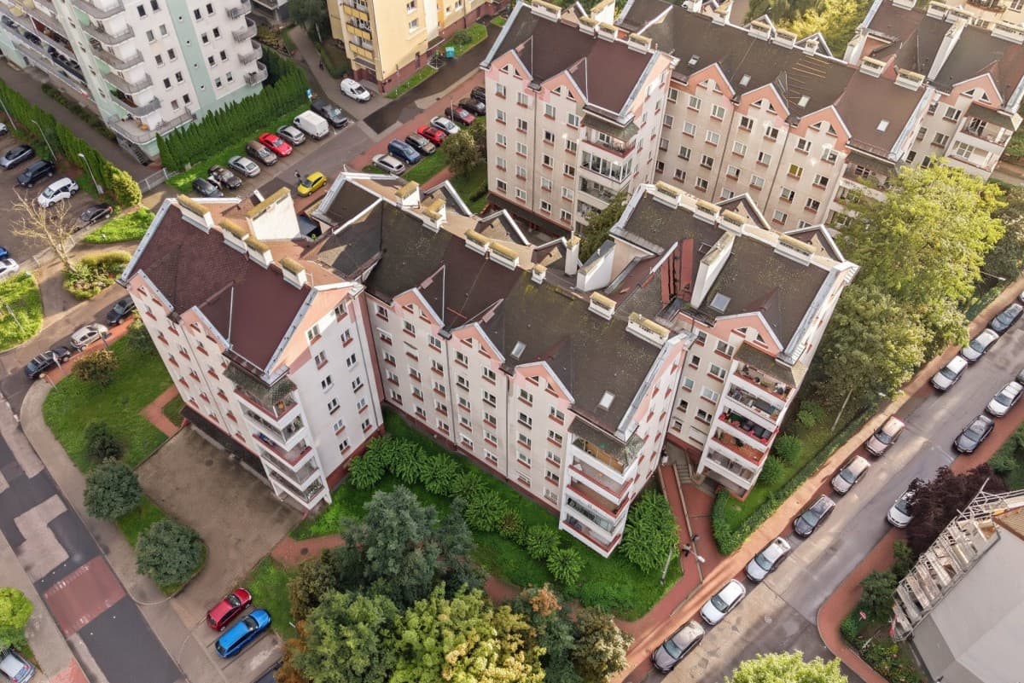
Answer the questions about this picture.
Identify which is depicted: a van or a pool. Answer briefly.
van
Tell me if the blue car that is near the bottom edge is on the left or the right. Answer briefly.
left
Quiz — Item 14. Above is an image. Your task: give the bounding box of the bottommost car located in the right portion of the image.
[651,617,705,674]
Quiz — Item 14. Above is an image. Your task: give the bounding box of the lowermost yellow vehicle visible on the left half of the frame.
[294,168,331,196]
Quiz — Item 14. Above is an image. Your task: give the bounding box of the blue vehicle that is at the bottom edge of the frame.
[212,609,274,661]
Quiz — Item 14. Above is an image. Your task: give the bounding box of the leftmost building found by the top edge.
[0,0,269,159]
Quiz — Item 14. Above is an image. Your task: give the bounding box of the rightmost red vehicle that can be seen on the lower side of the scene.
[202,587,256,634]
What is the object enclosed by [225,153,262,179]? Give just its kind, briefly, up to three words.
car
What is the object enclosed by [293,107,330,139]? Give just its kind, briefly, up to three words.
van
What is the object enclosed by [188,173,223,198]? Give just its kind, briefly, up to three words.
car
